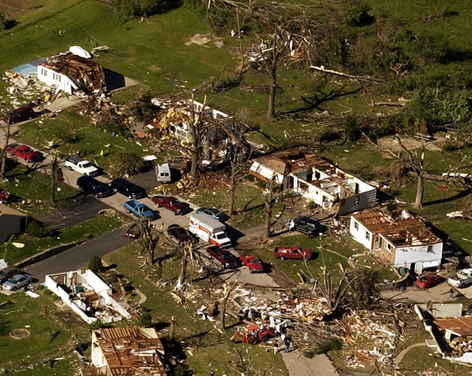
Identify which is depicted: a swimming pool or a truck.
truck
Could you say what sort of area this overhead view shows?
residential area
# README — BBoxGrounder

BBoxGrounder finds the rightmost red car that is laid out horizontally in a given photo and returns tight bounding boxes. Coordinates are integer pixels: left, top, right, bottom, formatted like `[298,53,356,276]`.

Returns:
[411,275,445,292]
